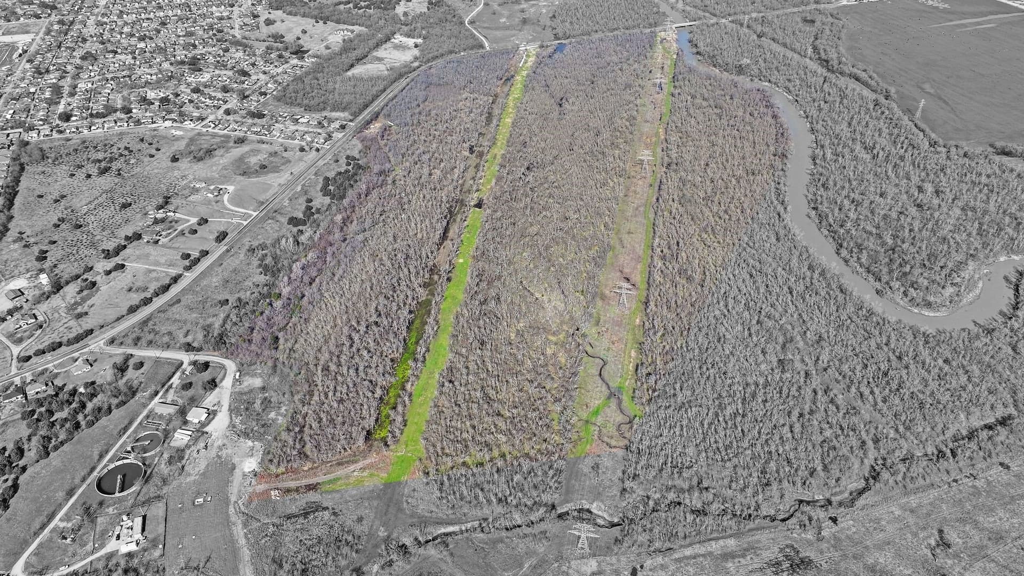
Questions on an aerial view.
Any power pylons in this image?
Yes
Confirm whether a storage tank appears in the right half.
No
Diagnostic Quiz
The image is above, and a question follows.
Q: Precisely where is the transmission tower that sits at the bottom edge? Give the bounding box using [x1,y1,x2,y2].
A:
[568,518,602,563]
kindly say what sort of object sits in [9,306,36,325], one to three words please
house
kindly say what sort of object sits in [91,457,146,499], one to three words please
storage tank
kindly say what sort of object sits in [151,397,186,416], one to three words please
building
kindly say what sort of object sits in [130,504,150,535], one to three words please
building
